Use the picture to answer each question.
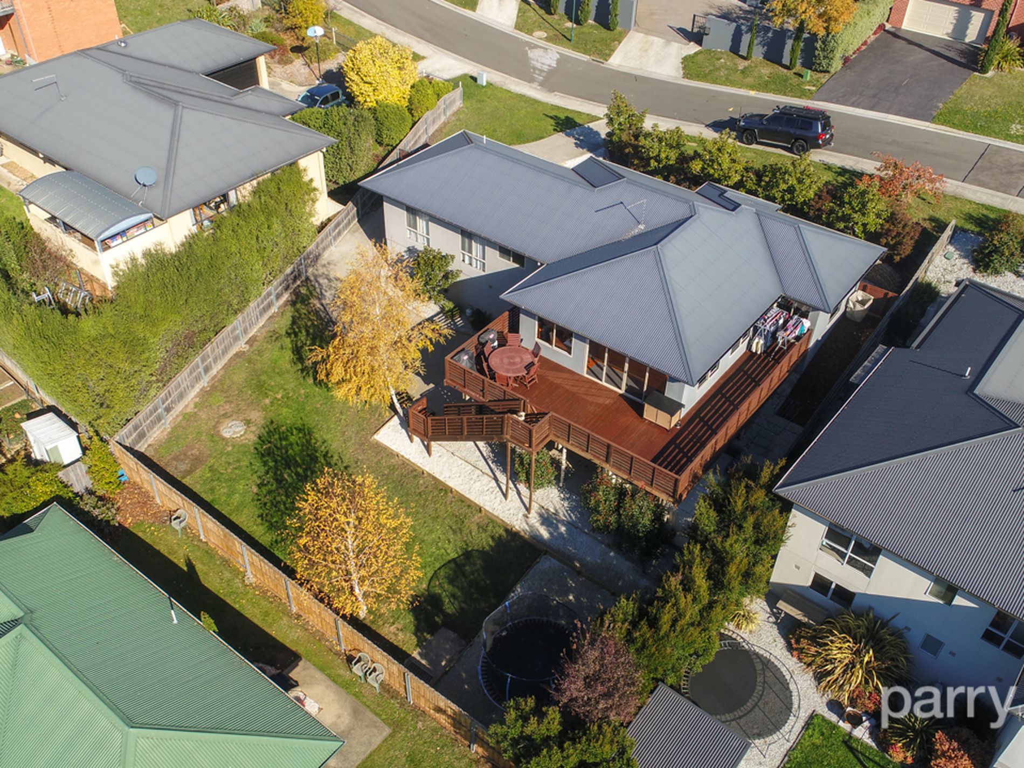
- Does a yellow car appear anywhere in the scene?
No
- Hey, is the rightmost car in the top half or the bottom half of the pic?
top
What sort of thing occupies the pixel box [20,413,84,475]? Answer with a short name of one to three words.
shed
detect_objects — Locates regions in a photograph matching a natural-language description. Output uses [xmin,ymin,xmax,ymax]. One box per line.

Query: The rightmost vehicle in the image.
[731,97,828,153]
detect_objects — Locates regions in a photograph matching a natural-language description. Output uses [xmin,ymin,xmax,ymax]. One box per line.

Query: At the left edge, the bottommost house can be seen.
[0,501,348,768]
